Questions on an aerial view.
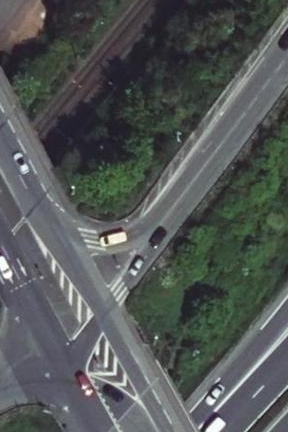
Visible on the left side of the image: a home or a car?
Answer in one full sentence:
Visible on the left side of the image is a car.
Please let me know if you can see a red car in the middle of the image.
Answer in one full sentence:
No, I can find no red car in the middle of the image.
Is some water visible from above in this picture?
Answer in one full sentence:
No, there's no water in this view.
